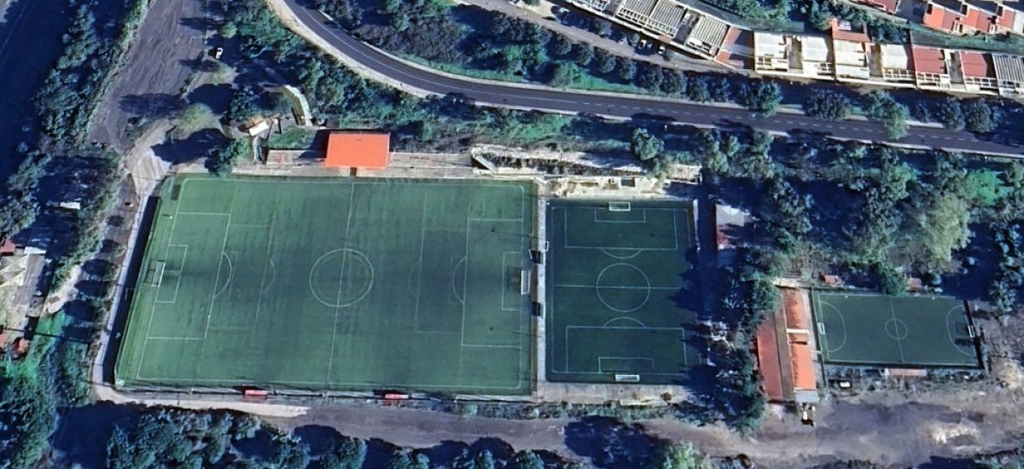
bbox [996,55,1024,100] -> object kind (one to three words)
house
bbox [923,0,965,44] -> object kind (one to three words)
house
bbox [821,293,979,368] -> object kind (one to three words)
sports court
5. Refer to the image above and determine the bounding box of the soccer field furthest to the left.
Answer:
[117,176,534,396]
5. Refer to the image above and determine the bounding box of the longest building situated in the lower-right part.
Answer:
[756,289,822,403]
